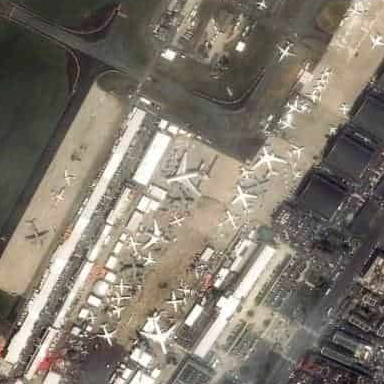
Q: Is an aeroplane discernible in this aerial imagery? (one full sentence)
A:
Yes, an aeroplane appears in the view.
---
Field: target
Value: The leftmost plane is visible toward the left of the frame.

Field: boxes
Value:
[26,218,49,246]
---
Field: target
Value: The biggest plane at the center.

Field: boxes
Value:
[167,152,214,195]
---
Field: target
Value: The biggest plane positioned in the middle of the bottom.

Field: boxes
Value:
[135,310,178,355]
